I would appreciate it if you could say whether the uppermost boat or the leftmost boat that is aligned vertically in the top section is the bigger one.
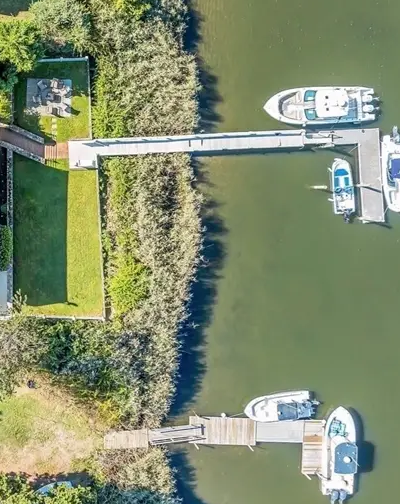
the uppermost boat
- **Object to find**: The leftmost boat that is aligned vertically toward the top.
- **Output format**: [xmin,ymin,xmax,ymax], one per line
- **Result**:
[324,158,352,220]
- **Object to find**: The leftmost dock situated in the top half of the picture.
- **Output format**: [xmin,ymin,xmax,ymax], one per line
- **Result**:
[69,129,306,169]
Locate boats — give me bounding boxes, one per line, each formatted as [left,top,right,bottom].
[322,405,359,501]
[263,86,379,128]
[324,158,352,220]
[380,131,400,212]
[243,392,316,422]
